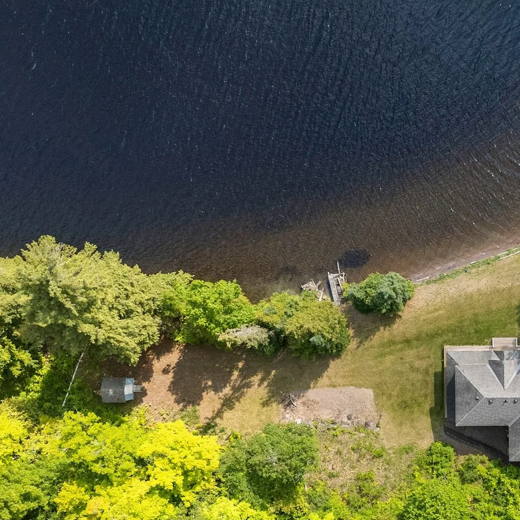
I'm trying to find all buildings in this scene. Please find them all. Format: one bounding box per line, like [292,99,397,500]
[96,377,143,403]
[444,337,520,463]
